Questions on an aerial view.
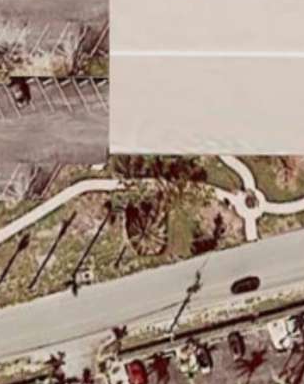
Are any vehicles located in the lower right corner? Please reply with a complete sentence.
Yes, there is a vehicle in the lower right corner.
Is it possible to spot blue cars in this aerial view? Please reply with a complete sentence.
No, the picture doesn't show any blue car.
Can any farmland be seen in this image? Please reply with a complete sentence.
No, the picture contains no farmland.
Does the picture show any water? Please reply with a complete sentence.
No, no water is visible.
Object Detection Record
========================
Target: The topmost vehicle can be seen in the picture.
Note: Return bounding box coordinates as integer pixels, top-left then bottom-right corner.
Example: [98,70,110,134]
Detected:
[10,76,29,104]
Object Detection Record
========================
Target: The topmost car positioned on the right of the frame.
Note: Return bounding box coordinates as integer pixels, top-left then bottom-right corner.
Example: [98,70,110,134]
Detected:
[230,276,259,293]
